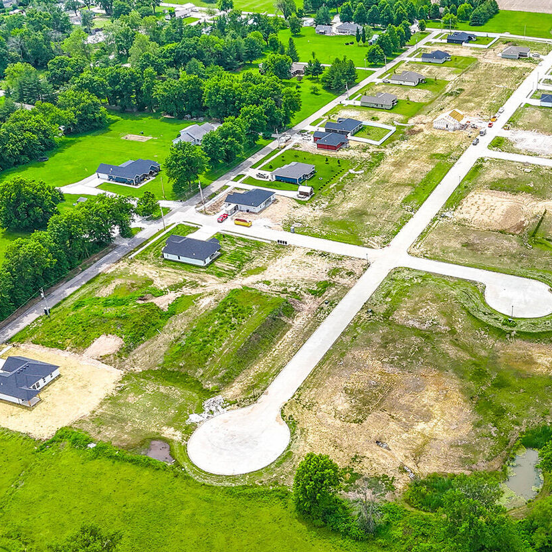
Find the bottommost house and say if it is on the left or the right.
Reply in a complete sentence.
The bottommost house appears in the left half of the scene.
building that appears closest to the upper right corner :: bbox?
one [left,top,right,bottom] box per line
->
[502,46,534,59]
